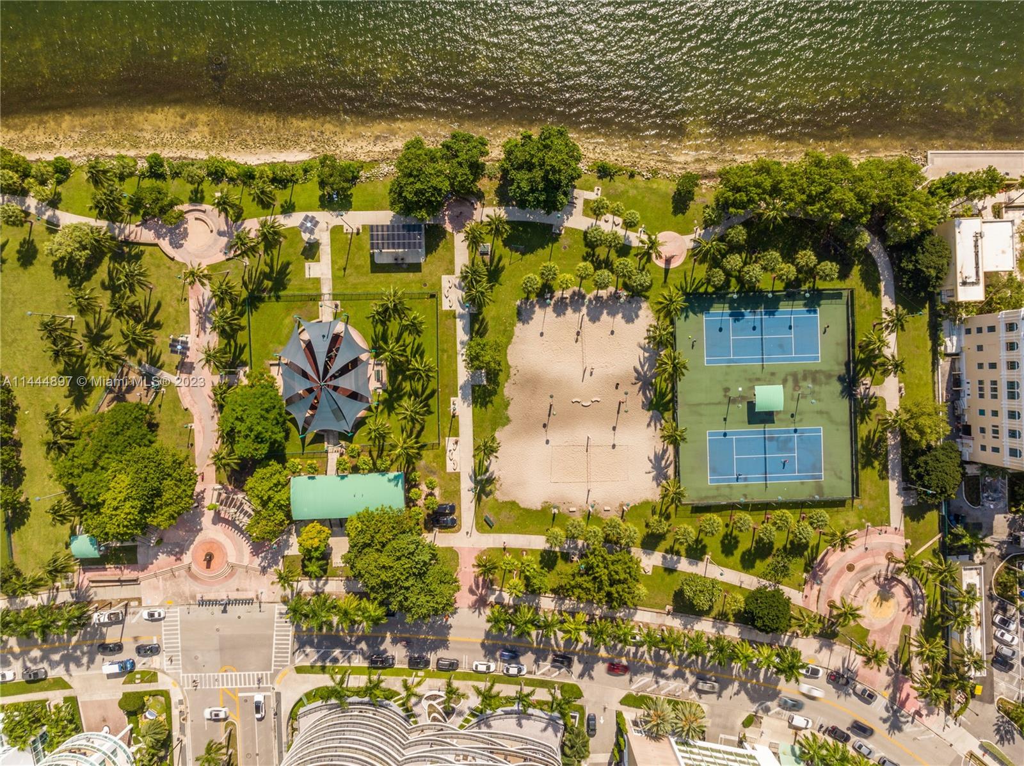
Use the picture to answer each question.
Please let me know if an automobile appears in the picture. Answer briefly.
Yes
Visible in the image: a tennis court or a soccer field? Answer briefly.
tennis court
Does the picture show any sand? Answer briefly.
Yes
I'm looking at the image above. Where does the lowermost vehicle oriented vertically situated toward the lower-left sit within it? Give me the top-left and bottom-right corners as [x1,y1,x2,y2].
[251,695,263,720]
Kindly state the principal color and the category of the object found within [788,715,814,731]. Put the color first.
white car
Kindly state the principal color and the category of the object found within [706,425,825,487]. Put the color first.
blue tennis court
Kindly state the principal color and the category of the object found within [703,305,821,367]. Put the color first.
blue tennis court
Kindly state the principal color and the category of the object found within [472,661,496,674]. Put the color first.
white vehicle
